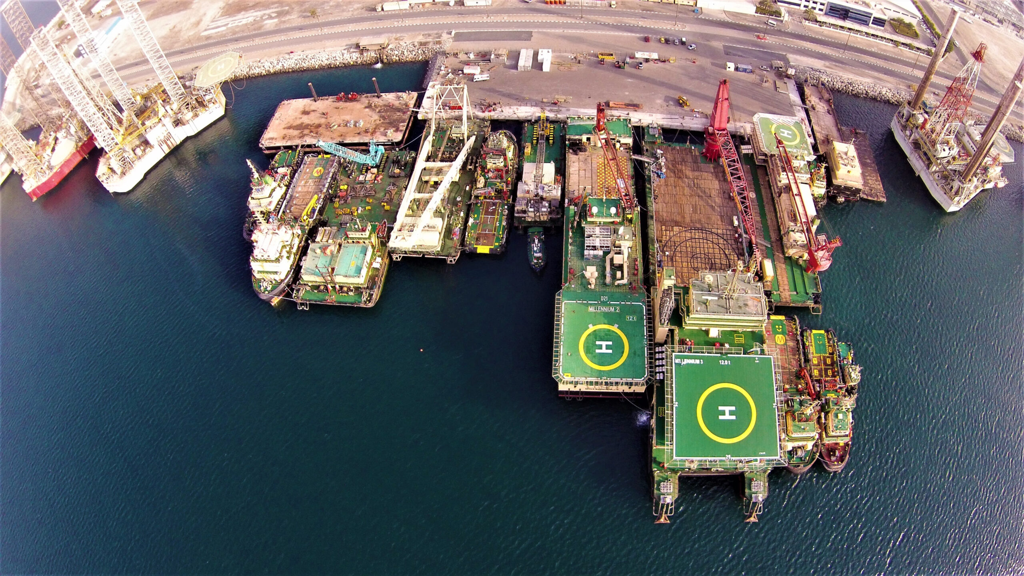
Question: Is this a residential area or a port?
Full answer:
The picture captures a port.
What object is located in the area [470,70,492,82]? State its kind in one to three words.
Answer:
vehicle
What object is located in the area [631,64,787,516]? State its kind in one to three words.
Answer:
vessel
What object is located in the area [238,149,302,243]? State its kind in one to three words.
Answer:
ship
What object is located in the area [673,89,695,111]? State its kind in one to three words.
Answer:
work vehicle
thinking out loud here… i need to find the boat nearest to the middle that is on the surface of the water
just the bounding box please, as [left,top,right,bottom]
[526,229,547,274]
